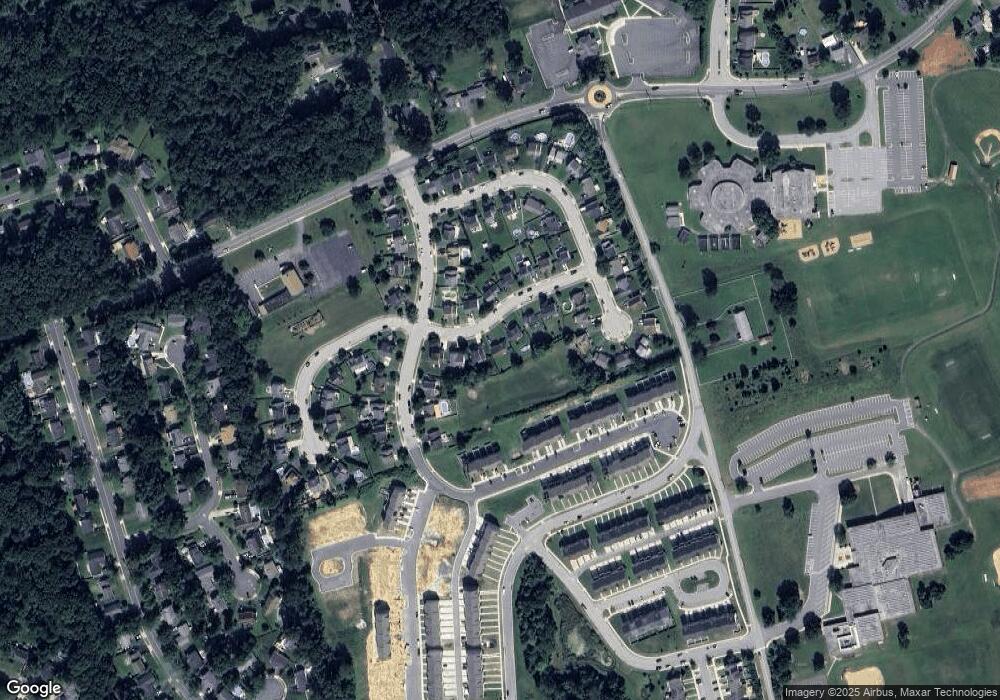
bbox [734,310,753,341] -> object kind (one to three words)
barn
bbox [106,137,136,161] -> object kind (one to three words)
house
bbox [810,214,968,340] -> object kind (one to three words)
sports field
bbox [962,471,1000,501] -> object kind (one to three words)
baseball field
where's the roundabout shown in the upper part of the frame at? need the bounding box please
[577,78,622,122]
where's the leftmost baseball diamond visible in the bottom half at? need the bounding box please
[843,666,884,700]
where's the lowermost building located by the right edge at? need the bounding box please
[823,492,952,660]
